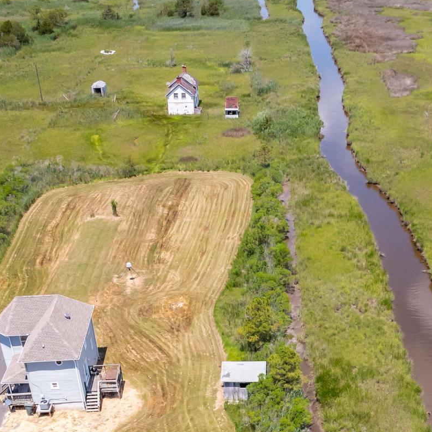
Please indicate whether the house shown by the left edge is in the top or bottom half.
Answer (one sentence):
The bottom half of the photo is where the house shown by the left edge is.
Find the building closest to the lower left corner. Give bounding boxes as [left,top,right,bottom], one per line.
[0,293,123,411]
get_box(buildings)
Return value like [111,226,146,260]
[224,98,240,118]
[165,54,202,114]
[92,79,108,97]
[221,358,266,401]
[0,293,123,411]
